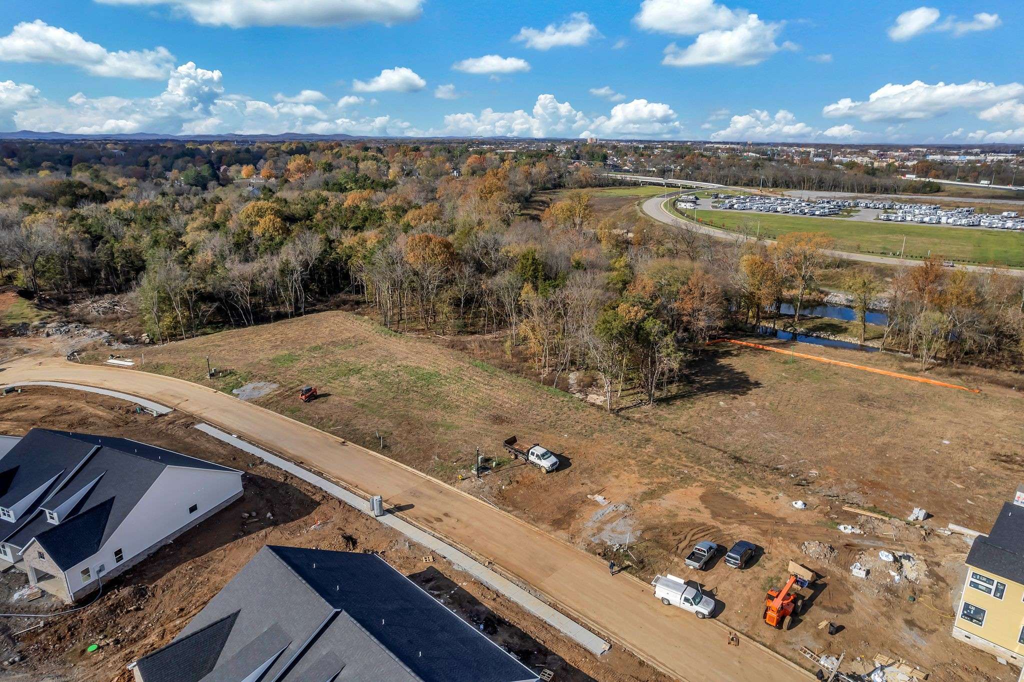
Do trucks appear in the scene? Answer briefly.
Yes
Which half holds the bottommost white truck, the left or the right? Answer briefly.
right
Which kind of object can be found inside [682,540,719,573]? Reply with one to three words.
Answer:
truck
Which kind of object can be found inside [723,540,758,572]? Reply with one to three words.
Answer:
car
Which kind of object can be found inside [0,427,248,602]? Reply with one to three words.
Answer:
house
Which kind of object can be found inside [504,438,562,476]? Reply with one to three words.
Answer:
truck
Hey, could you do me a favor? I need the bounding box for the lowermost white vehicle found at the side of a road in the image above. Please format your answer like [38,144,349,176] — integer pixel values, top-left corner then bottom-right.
[643,564,719,616]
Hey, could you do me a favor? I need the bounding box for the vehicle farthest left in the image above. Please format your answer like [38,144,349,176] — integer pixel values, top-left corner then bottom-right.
[294,384,319,403]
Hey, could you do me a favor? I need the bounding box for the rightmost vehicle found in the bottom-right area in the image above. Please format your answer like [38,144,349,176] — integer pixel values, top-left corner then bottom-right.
[763,556,823,626]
